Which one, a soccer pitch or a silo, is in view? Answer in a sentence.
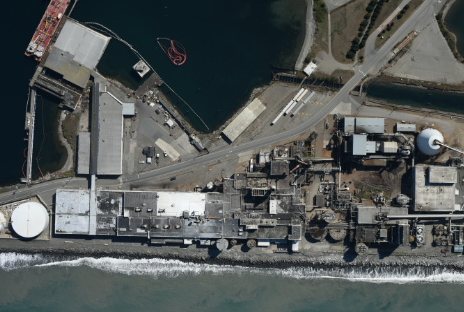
This aerial view contains a silo.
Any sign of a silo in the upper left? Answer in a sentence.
No, no silo appears in the upper left.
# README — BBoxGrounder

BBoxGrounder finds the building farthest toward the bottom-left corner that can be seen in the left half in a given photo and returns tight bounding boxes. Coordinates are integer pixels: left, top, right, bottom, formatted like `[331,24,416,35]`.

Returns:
[54,213,90,234]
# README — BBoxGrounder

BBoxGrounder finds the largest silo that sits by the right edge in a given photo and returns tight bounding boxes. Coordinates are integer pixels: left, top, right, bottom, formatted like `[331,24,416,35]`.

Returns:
[415,126,445,156]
